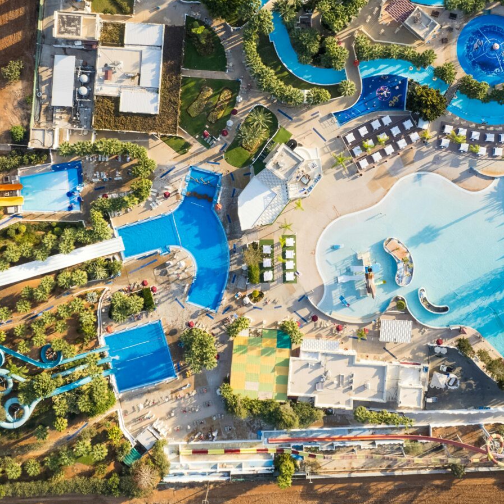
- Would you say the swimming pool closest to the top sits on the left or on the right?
right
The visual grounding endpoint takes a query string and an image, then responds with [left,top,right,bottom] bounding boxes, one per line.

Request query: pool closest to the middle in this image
[116,168,230,312]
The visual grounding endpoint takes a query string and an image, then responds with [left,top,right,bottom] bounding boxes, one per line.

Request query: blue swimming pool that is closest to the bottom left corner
[102,321,177,393]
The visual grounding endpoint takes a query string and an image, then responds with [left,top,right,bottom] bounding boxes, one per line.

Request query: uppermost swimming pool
[457,13,504,84]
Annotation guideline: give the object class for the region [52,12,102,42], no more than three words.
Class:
building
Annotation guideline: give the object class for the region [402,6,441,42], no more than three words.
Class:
shed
